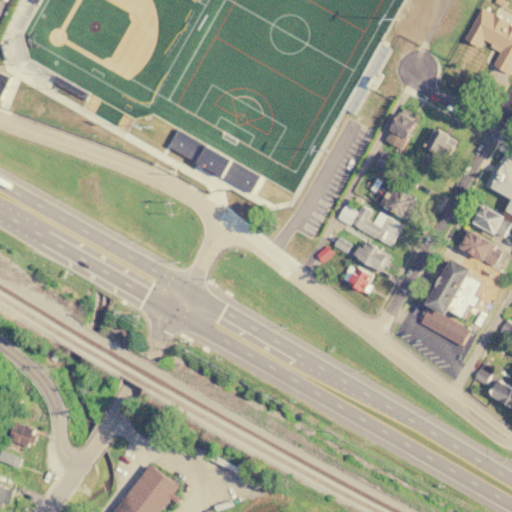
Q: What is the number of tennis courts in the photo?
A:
0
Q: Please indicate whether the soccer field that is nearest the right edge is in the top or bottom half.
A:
top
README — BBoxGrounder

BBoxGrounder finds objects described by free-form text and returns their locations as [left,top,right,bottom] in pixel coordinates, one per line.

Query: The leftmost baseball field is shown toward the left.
[26,0,208,118]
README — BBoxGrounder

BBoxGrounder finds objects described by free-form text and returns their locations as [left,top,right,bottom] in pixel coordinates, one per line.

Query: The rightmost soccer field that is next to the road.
[132,0,404,194]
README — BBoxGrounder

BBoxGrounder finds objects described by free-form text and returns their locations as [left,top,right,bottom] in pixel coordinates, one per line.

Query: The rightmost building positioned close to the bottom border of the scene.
[112,462,180,512]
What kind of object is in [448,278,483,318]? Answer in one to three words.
building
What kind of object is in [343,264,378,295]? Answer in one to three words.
house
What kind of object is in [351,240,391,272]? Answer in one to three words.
house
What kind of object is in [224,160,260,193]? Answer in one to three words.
building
